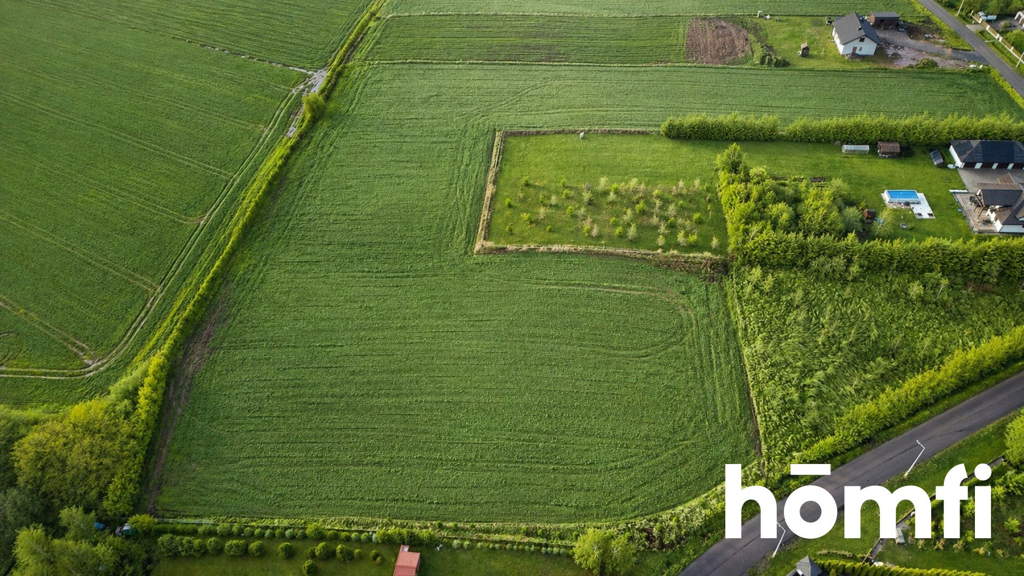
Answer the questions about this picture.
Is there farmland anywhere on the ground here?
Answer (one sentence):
Yes, the picture does contain farmland.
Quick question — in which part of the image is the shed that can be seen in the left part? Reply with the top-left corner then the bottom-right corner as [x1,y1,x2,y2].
[391,544,423,576]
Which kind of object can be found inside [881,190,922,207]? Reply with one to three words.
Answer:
swimming pool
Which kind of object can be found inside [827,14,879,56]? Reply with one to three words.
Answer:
house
